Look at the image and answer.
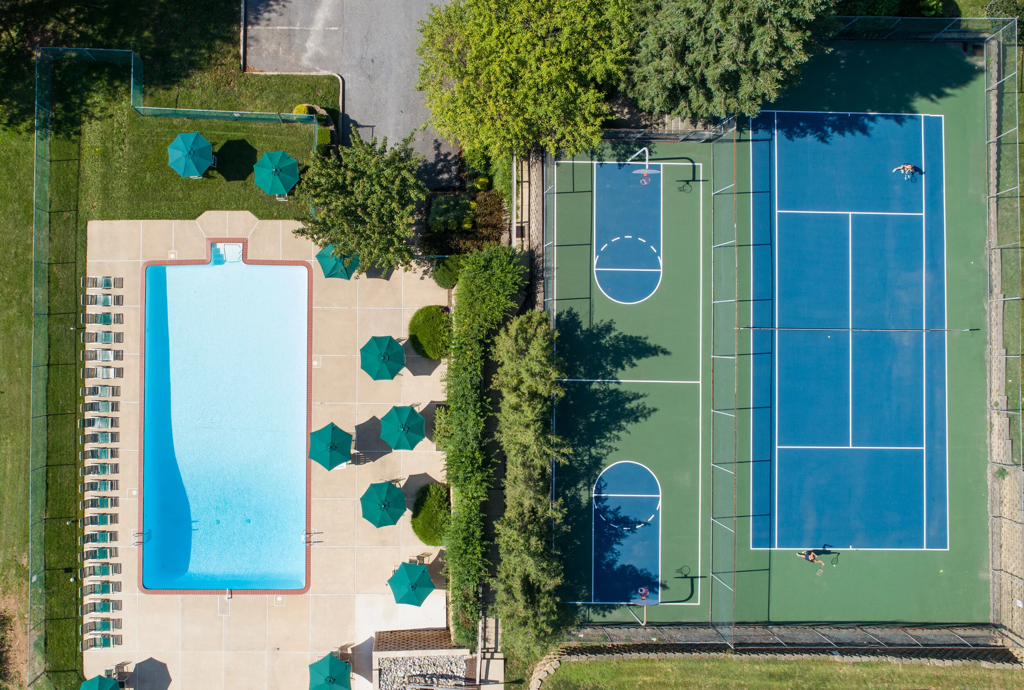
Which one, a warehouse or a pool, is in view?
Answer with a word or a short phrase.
pool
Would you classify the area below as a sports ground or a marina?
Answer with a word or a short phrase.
sports ground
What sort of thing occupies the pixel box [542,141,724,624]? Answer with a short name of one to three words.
basketball court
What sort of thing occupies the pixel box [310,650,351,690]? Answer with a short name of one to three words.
umbrella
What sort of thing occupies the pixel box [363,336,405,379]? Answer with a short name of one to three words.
umbrella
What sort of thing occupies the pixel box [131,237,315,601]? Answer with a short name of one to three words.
swimming pool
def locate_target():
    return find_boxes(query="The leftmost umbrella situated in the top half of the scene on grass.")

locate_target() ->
[170,134,213,178]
